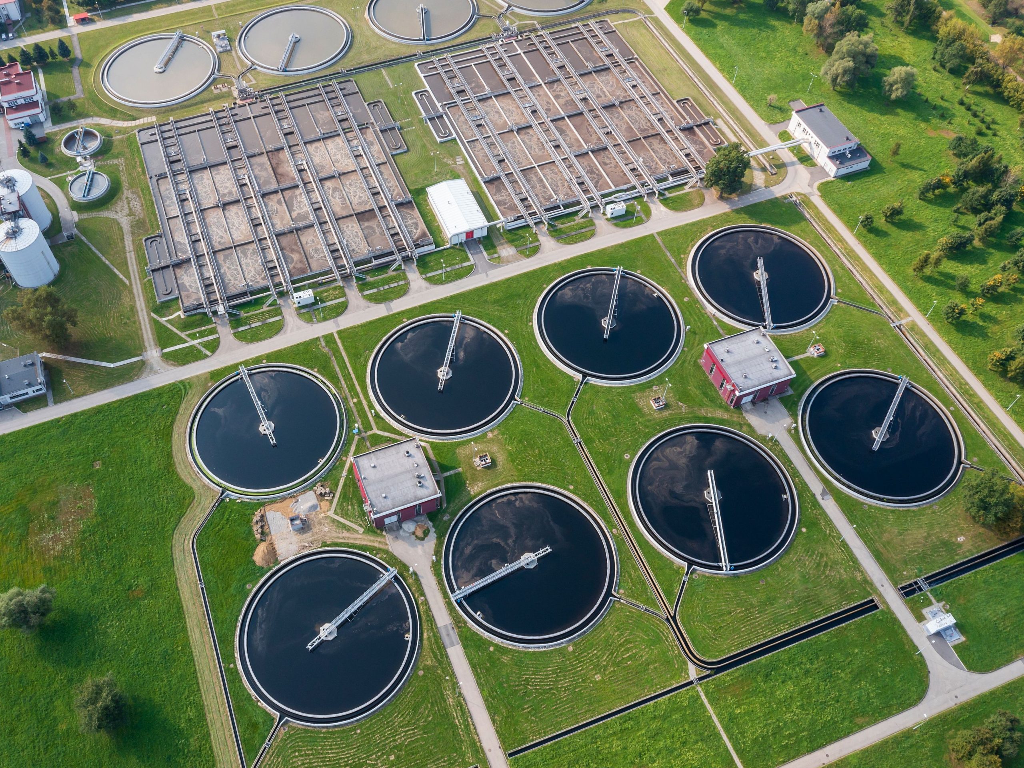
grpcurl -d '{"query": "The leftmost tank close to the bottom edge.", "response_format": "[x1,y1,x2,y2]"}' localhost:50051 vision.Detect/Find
[236,547,421,731]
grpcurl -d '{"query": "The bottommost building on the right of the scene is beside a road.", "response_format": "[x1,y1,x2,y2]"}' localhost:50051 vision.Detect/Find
[703,326,795,415]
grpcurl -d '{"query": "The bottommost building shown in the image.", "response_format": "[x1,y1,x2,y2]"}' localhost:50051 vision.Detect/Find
[352,437,442,537]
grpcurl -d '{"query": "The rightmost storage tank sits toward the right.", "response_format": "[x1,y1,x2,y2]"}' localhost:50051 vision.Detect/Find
[798,369,972,508]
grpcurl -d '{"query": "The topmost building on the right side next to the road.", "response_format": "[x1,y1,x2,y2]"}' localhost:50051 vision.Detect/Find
[788,102,872,179]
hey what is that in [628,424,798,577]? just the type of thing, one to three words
storage tank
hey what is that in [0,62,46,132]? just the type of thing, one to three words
building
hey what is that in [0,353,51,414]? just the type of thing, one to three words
building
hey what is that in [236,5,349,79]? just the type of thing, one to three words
storage tank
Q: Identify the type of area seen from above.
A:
industrial area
